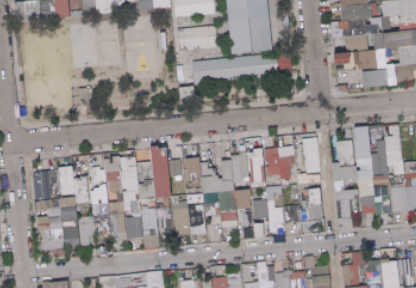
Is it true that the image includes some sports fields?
Yes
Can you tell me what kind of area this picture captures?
residential area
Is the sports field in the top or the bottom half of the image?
top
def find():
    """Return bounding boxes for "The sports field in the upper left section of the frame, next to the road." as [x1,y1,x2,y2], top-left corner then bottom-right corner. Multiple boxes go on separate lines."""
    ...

[24,25,74,120]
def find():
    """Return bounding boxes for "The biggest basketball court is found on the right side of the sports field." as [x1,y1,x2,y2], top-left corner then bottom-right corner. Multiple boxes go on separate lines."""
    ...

[126,14,160,78]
